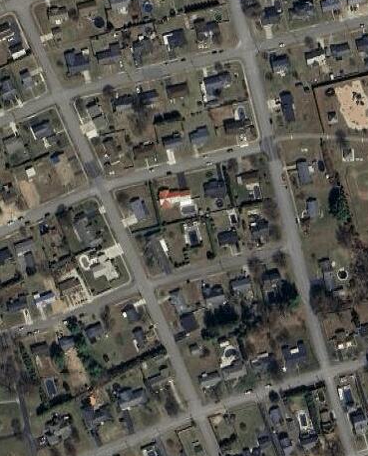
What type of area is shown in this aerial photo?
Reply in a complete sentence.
This looks like a residential area.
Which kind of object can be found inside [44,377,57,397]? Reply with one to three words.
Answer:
swimming pool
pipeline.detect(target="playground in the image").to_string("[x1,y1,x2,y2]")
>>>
[333,81,368,130]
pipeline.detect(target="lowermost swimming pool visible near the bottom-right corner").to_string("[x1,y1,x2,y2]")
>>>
[298,412,311,430]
